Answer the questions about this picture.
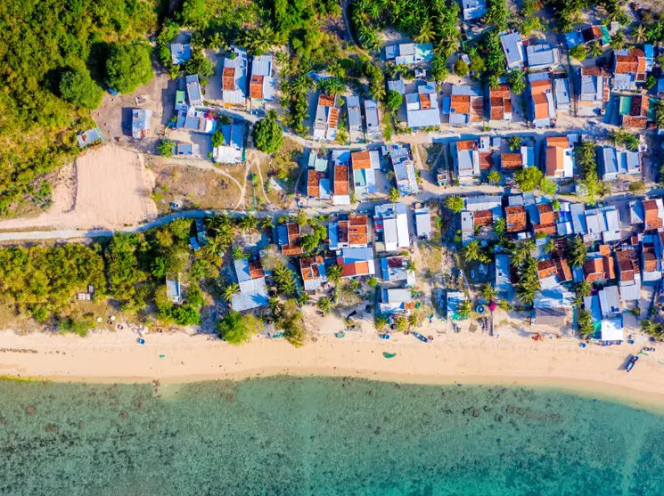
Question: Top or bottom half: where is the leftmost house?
top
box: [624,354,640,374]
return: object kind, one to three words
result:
boat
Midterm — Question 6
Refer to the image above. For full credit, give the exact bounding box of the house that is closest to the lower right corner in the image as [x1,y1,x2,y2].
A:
[598,320,623,340]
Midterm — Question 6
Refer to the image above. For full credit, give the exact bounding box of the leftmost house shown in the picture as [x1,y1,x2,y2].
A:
[77,126,103,148]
